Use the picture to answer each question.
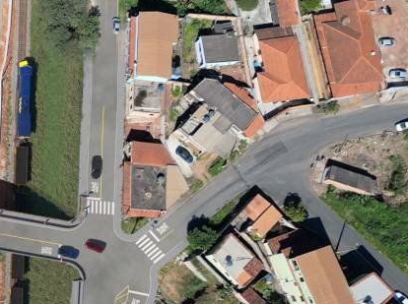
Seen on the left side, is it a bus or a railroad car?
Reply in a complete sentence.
Visible on the left side is a railroad car.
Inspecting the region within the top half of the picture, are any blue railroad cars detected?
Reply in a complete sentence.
Yes, a blue railroad car can be seen within the top half of the picture.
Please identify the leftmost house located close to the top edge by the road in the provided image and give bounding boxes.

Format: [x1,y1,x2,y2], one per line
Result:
[126,13,179,81]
